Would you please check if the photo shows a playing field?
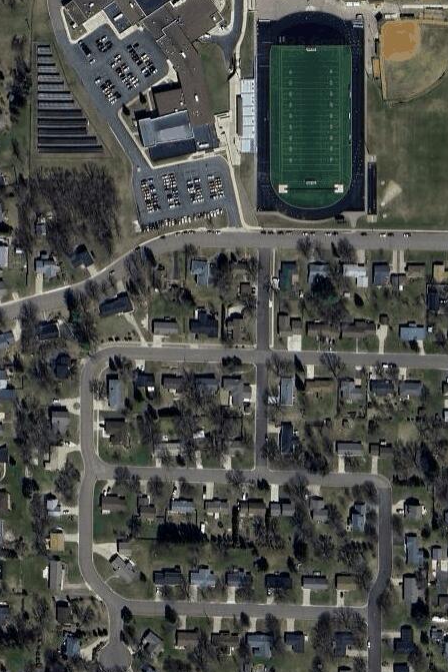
Yes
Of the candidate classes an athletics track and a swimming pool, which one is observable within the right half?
athletics track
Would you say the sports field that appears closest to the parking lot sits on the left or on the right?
right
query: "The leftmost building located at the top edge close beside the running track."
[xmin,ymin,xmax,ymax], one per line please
[63,0,222,161]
